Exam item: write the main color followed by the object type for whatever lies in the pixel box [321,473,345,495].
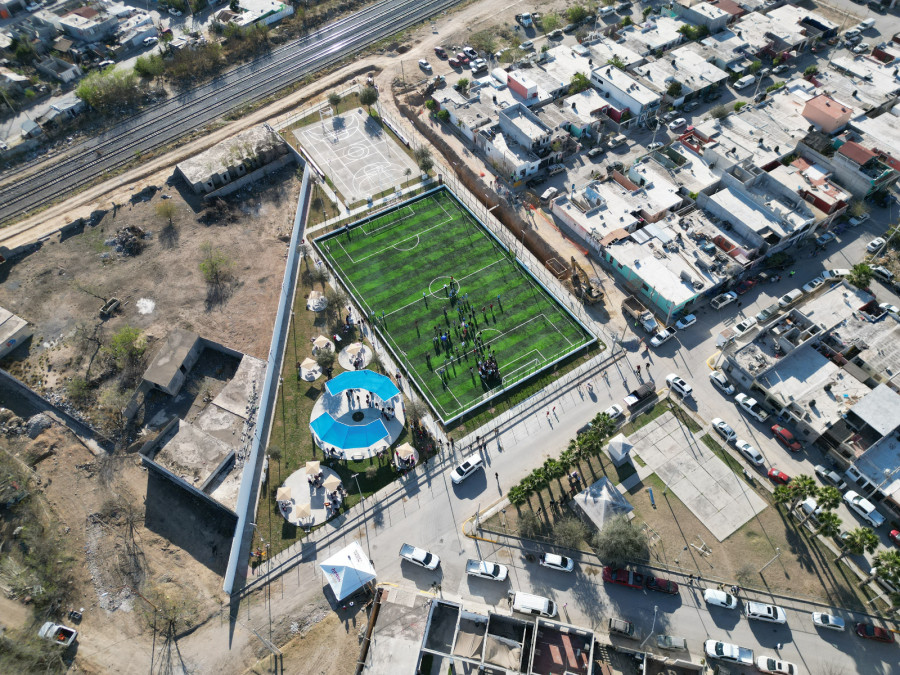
white umbrella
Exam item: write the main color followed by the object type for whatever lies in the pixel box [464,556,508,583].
white truck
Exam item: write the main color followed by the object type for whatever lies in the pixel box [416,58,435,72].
white vehicle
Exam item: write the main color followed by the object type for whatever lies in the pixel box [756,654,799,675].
white car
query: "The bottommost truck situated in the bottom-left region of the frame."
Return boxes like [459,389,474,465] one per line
[36,621,80,645]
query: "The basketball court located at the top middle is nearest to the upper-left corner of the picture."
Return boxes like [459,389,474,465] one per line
[293,107,421,202]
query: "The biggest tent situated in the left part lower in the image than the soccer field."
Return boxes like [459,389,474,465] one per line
[320,541,377,605]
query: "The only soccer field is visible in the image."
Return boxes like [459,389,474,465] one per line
[314,185,597,428]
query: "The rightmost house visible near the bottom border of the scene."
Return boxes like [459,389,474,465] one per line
[529,615,594,675]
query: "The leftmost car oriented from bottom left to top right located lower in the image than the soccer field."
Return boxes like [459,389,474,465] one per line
[448,451,486,483]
